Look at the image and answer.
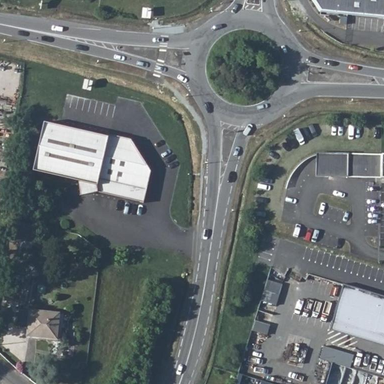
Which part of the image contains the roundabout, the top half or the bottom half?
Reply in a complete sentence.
You can find the roundabout in the top half.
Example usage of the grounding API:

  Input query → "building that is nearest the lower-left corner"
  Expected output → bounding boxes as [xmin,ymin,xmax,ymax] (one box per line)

[26,310,62,340]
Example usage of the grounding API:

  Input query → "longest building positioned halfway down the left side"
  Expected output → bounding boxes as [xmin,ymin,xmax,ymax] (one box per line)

[33,121,152,203]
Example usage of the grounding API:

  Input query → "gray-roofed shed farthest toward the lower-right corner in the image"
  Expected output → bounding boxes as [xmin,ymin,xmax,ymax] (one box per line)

[319,346,354,368]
